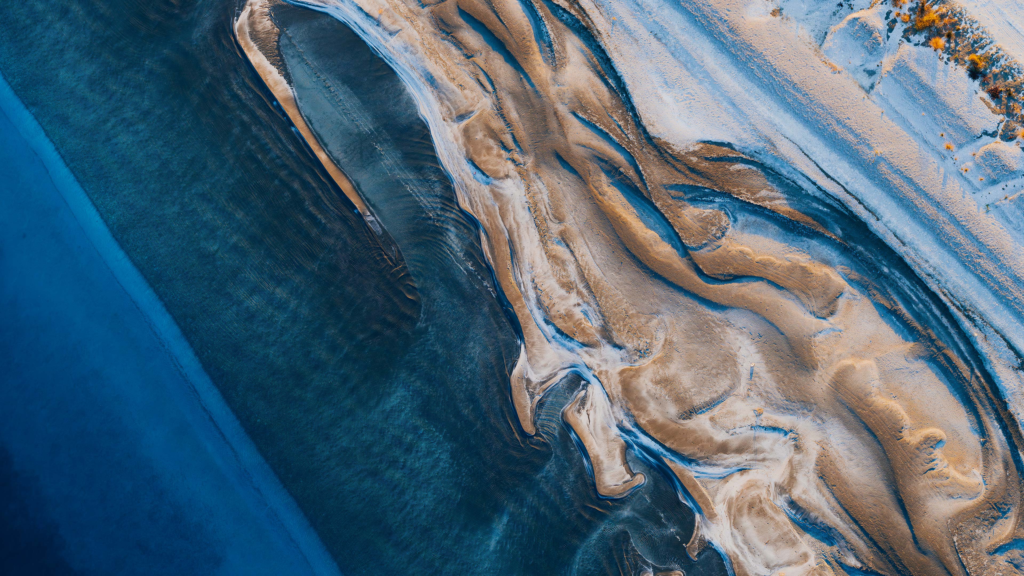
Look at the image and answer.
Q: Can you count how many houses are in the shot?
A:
none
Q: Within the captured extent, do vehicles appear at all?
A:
No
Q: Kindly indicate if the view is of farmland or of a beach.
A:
beach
